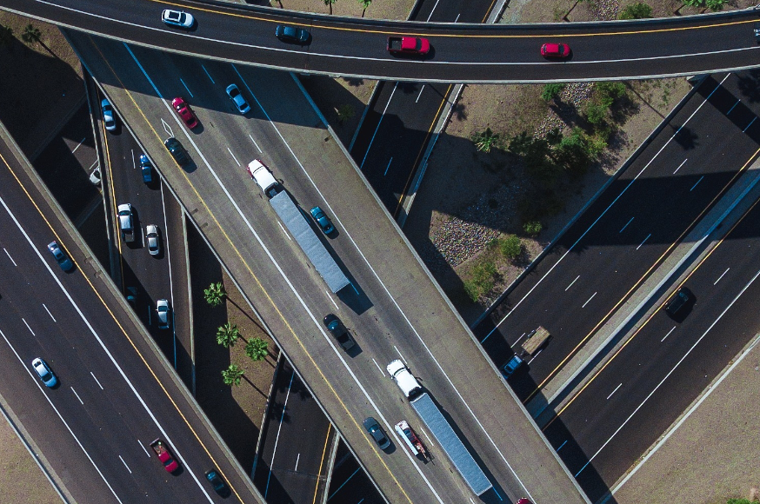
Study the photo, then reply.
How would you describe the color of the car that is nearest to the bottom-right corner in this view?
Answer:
black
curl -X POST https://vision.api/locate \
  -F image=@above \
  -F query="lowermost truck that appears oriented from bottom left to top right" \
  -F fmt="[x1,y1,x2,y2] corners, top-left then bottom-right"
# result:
[501,355,528,383]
